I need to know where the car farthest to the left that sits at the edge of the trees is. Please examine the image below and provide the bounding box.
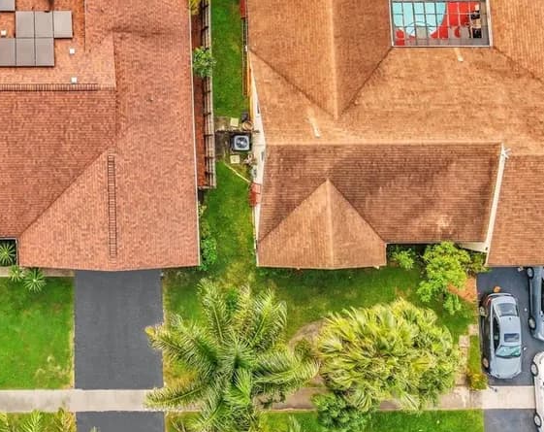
[472,289,528,380]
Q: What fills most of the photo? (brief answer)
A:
buildings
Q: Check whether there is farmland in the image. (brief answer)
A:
No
